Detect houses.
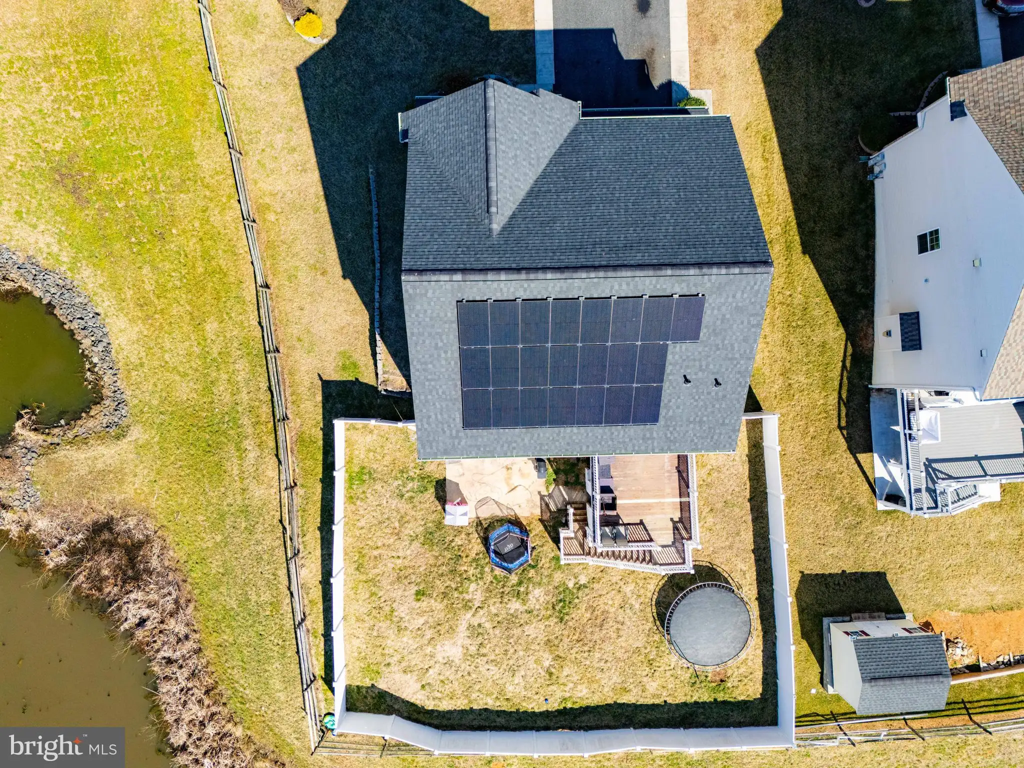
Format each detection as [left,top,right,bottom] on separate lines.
[398,78,775,462]
[861,61,1024,403]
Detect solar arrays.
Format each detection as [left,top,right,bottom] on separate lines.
[457,293,707,430]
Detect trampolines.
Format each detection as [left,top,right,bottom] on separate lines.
[487,522,530,578]
[663,578,755,671]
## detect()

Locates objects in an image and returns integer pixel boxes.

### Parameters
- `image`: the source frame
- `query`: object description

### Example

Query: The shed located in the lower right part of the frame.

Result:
[823,605,955,715]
